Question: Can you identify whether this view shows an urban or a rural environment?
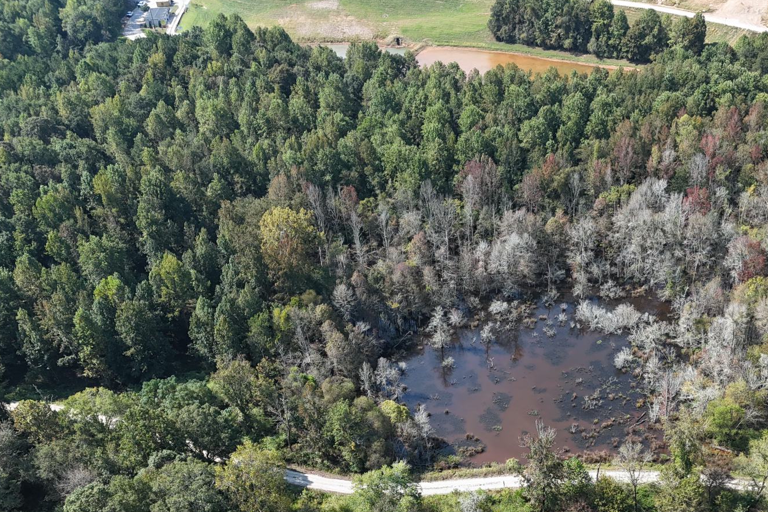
rural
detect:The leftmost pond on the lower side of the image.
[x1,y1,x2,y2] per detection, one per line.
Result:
[381,288,679,465]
